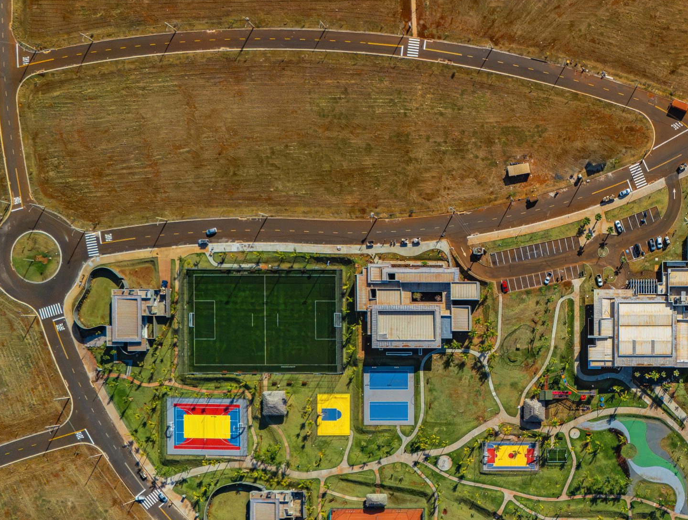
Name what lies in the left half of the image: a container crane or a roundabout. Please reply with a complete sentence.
Looking in the left half of the image, you will find a roundabout.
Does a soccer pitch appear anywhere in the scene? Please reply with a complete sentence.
Yes, the frame does contain a soccer pitch.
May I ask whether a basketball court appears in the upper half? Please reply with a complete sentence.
No, looking in the upper half, there is no basketball court.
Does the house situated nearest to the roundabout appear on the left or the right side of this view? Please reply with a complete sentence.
It is on the left.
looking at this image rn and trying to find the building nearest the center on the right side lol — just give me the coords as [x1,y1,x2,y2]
[356,264,481,355]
